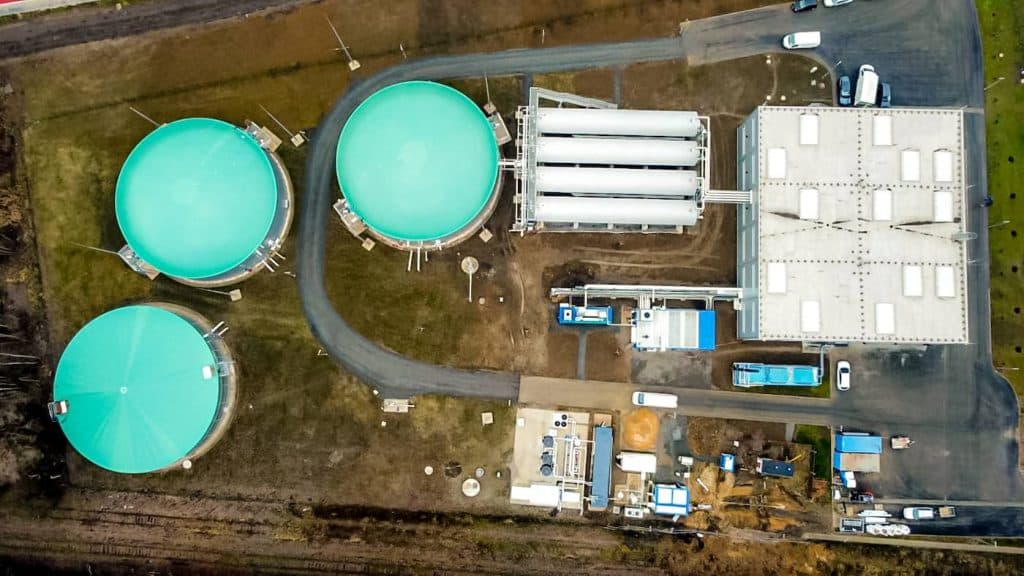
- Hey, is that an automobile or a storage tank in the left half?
storage tank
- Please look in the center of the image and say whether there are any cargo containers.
Yes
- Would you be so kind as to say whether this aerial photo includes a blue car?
Yes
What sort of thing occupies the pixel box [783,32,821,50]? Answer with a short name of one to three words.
vehicle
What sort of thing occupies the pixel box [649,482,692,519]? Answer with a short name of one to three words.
building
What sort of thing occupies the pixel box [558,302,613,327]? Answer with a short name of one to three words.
shipping container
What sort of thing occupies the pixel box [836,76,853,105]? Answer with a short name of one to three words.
car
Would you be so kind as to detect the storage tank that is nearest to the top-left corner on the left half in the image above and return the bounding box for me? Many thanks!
[114,116,294,287]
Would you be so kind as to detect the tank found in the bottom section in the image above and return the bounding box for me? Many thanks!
[42,301,241,473]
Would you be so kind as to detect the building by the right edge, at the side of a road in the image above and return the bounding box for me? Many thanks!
[737,107,980,343]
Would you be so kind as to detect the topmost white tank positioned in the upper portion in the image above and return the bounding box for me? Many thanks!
[538,110,699,139]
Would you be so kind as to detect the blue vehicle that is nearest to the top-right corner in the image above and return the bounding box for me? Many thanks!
[876,82,892,107]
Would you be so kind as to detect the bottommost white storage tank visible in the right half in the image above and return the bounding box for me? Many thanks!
[537,197,699,230]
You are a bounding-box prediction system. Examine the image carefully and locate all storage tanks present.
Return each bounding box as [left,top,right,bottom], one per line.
[330,81,514,273]
[42,301,241,473]
[114,116,294,287]
[538,110,699,139]
[537,168,699,197]
[538,139,699,168]
[537,197,699,230]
